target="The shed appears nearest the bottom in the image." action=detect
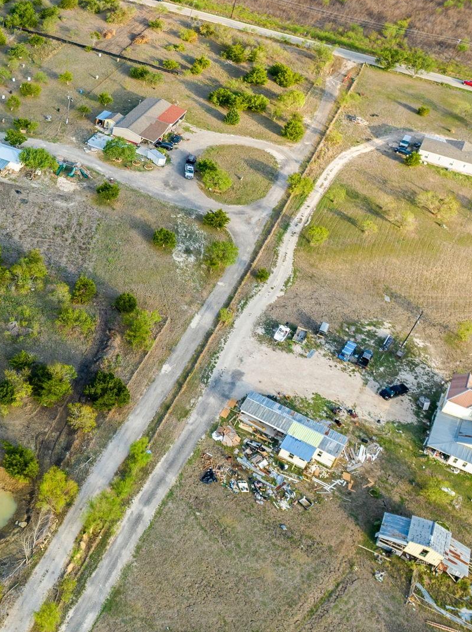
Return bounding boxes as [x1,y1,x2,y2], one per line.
[378,512,471,581]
